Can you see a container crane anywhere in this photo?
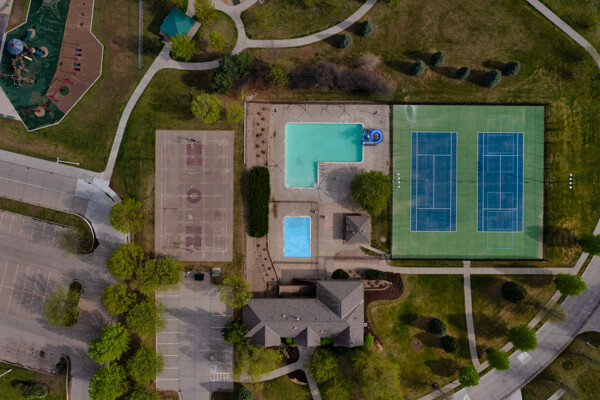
No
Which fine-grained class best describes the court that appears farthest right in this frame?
tennis court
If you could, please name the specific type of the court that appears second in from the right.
tennis court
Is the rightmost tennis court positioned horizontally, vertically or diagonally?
vertically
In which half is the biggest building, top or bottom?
bottom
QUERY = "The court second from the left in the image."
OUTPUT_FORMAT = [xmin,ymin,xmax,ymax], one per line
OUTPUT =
[392,105,467,260]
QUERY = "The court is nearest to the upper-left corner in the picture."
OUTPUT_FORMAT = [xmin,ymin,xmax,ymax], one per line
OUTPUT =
[155,130,234,261]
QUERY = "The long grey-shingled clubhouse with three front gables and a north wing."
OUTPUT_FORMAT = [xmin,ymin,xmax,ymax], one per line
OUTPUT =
[243,280,366,346]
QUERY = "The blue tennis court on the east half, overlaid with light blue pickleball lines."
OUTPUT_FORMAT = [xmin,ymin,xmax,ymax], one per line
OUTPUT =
[466,105,544,260]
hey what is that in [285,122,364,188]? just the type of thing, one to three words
swimming pool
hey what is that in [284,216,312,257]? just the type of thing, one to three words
swimming pool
